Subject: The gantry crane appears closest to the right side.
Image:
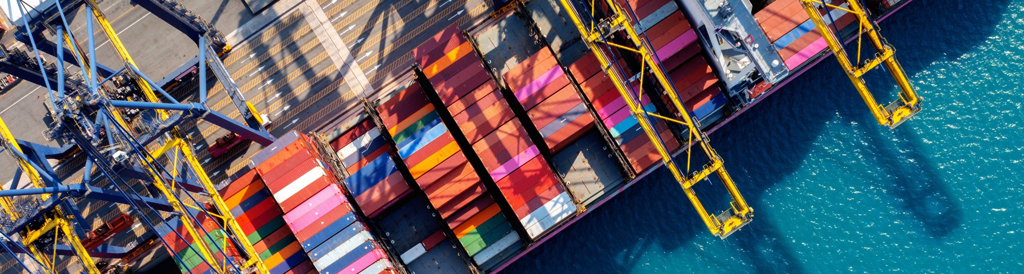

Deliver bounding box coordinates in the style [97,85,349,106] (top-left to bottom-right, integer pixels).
[790,0,926,138]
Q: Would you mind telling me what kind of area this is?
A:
port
